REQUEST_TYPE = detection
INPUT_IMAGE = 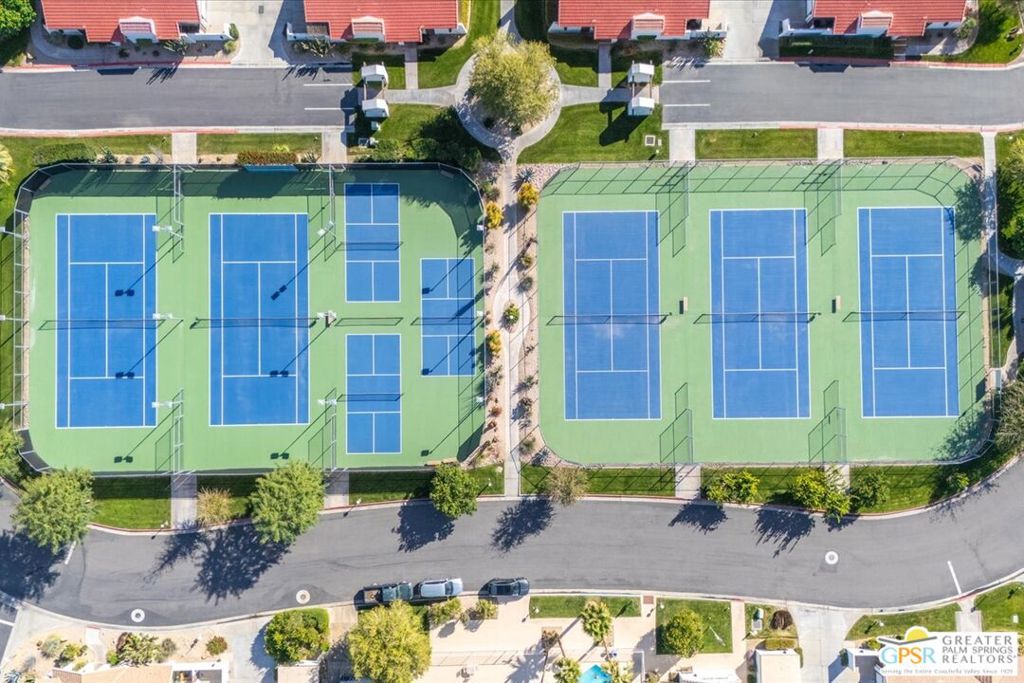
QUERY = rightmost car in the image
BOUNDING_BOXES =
[486,576,529,598]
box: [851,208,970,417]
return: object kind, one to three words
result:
tennis court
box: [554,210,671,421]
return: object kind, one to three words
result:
tennis court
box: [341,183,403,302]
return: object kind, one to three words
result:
sports court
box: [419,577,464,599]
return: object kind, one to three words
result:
car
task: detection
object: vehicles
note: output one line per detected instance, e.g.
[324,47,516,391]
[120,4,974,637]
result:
[419,577,464,599]
[486,576,529,598]
[362,581,415,604]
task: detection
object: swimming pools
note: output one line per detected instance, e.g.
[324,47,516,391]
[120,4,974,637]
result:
[577,663,607,683]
